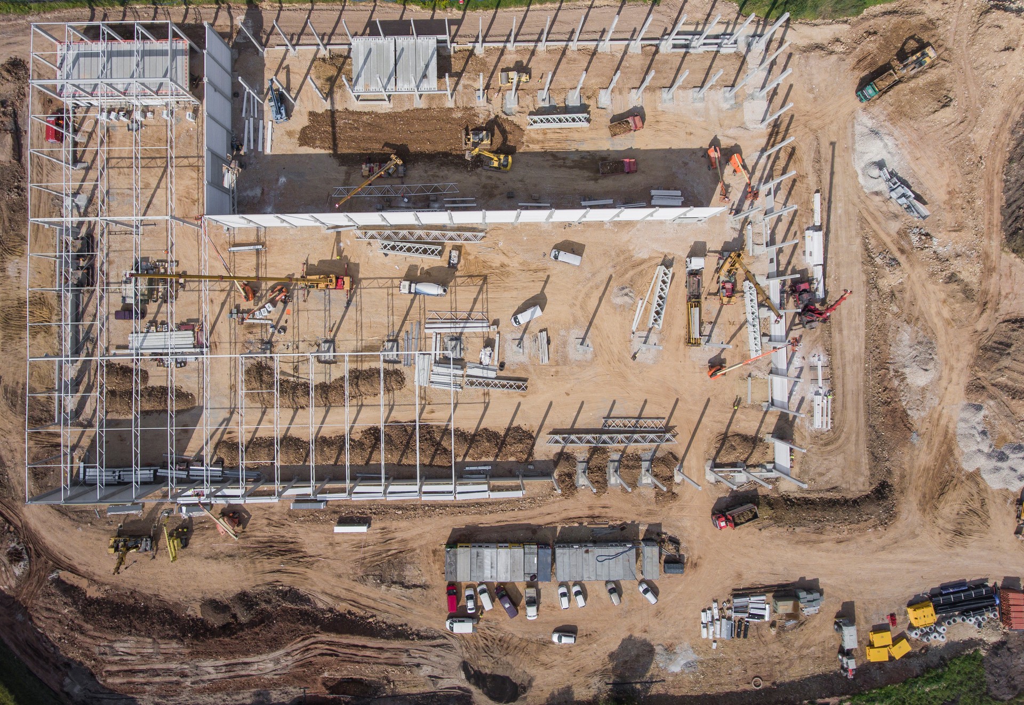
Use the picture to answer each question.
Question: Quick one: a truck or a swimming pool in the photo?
truck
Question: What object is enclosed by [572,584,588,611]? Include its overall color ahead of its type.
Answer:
white car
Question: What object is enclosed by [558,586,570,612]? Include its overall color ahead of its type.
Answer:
white vehicle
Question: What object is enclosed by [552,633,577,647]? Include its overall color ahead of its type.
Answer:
white car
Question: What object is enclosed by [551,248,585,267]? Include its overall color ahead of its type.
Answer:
white vehicle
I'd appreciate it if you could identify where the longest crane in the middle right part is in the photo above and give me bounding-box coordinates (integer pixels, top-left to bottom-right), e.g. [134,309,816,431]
[713,250,783,321]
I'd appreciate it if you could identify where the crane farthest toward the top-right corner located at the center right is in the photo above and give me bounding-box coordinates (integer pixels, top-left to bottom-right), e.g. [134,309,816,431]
[795,274,855,325]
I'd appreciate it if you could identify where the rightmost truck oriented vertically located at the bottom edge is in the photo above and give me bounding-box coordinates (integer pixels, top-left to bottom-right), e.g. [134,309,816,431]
[836,622,862,681]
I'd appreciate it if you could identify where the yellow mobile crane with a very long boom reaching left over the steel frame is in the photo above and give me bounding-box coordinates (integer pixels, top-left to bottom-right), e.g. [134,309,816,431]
[123,264,353,303]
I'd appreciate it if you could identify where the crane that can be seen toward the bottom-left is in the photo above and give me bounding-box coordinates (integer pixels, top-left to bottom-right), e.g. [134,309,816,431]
[103,528,152,577]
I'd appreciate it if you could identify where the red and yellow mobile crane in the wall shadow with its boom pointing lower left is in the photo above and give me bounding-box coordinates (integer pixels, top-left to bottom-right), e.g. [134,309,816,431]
[333,150,404,209]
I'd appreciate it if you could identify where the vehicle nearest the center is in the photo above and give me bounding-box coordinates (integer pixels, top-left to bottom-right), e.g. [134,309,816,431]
[511,304,544,327]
